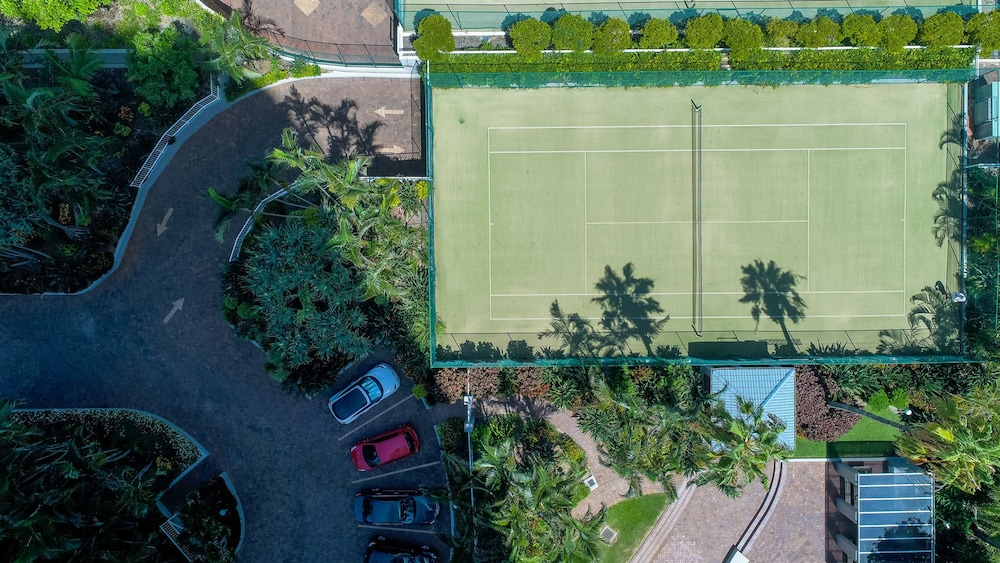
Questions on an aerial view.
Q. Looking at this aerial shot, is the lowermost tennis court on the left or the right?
right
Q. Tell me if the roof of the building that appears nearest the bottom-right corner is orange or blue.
blue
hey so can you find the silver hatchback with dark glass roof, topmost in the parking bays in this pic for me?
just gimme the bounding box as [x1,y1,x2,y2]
[324,360,404,425]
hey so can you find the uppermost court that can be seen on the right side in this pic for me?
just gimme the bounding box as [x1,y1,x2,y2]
[404,0,980,31]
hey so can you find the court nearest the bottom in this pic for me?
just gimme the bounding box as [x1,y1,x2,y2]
[431,82,970,360]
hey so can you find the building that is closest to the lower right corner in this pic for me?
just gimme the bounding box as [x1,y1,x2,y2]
[835,461,935,563]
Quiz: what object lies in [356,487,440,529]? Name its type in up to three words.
car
